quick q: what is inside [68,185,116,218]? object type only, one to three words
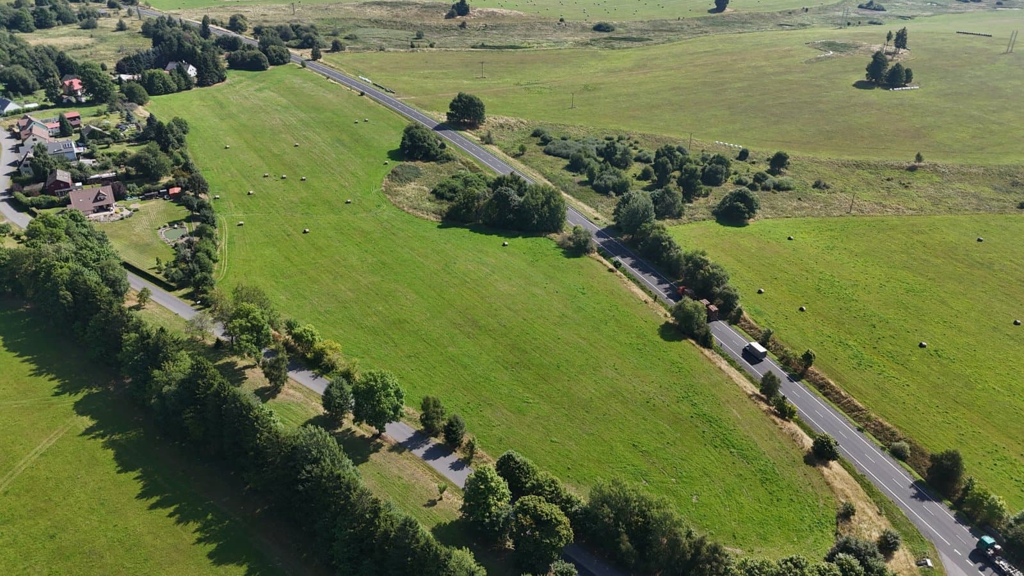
house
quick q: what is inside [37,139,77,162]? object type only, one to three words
house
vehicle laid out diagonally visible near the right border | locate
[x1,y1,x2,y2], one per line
[970,534,1020,576]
